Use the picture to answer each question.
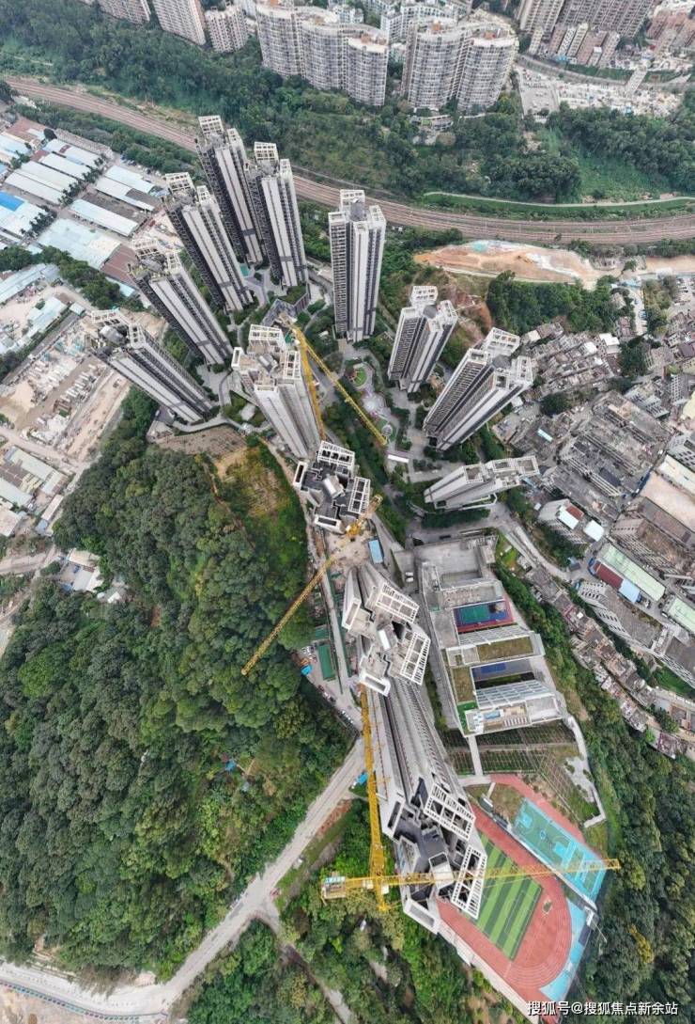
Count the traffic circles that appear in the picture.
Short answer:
zero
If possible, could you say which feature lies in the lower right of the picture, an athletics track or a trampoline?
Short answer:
athletics track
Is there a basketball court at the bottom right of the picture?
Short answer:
Yes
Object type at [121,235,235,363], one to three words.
building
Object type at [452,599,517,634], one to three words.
sports court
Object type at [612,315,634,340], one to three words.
house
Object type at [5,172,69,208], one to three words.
shed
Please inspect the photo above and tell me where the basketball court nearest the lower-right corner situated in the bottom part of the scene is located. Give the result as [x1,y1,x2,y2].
[513,798,606,906]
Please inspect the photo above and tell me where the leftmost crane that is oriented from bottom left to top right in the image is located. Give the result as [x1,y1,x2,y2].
[242,493,381,675]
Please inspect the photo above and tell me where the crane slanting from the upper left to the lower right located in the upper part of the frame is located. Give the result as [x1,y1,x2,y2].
[281,305,389,447]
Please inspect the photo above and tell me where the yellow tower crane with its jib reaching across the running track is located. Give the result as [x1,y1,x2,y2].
[324,685,622,910]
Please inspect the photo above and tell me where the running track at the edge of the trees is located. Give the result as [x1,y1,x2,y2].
[454,773,577,1005]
